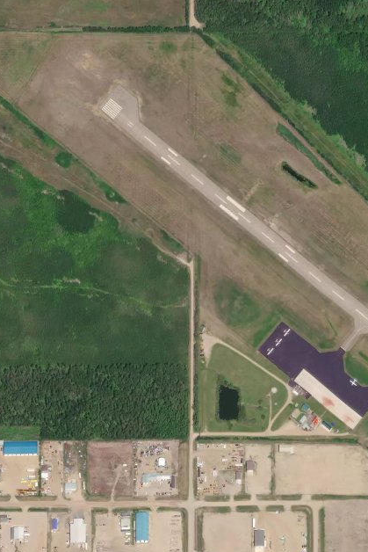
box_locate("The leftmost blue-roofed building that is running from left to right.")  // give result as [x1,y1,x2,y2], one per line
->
[2,441,37,456]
